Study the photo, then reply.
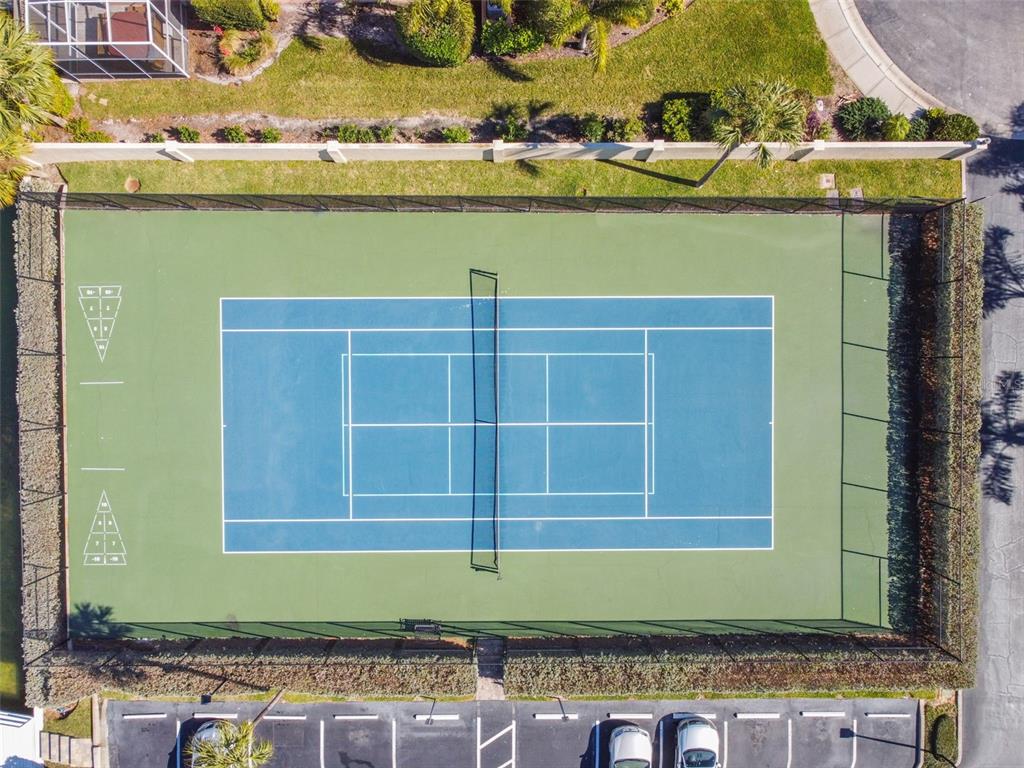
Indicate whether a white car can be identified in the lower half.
Yes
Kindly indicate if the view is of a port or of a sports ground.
sports ground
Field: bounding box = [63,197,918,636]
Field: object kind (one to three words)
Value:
tennis court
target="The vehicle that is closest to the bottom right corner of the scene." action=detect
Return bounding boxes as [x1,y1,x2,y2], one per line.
[673,717,726,768]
